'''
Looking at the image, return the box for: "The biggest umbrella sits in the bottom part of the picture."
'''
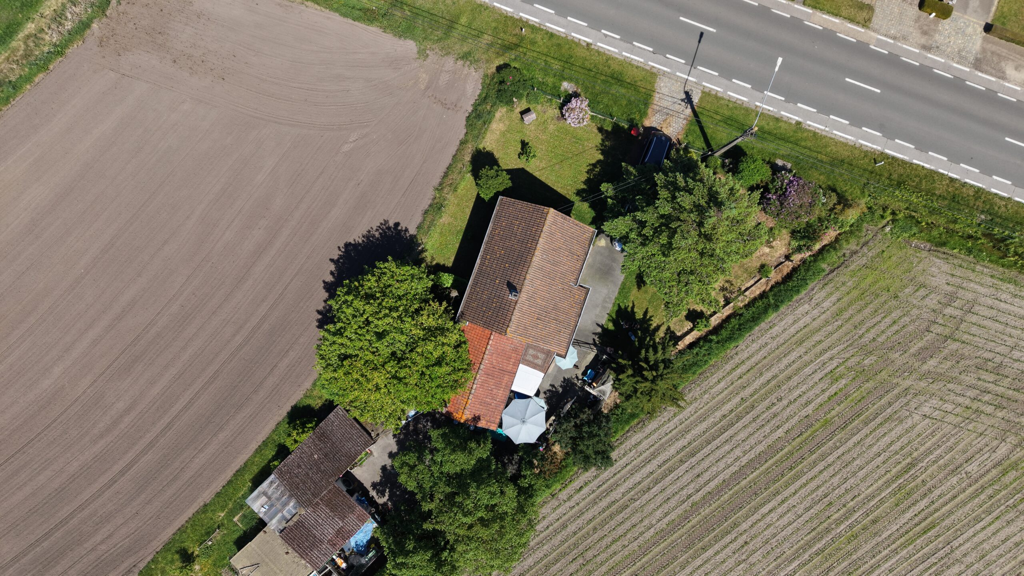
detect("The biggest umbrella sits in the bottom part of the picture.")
[502,398,546,442]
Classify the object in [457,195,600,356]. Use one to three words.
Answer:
house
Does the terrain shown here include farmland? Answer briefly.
Yes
